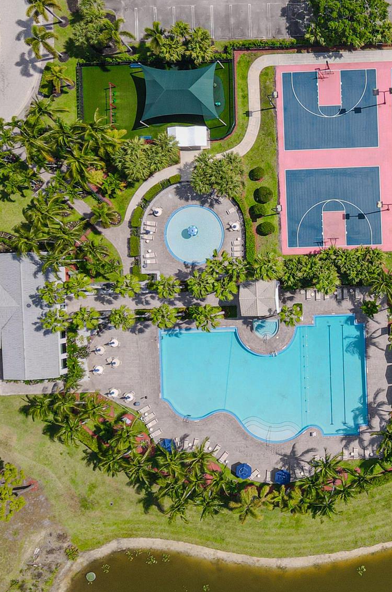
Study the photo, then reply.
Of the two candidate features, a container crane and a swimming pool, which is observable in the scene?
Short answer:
swimming pool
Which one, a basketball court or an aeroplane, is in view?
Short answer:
basketball court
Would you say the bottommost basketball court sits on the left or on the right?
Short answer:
right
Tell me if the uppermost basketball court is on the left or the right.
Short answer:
right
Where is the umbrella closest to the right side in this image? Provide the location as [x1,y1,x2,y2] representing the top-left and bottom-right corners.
[275,469,292,484]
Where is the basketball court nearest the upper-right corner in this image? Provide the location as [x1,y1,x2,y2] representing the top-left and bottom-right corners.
[282,68,378,151]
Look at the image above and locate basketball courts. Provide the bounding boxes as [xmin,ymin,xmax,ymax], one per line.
[284,165,382,248]
[282,68,378,151]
